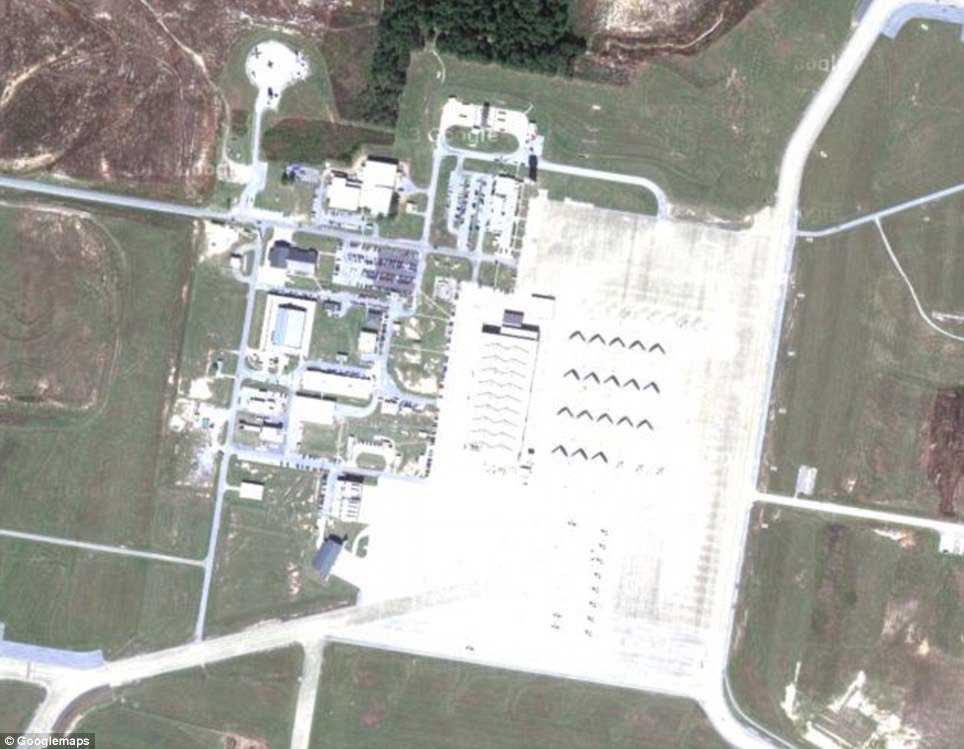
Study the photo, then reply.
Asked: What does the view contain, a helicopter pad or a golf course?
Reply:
helicopter pad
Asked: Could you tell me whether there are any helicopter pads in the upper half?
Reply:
Yes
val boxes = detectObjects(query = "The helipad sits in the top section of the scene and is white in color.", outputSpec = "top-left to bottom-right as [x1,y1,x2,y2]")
[245,40,310,162]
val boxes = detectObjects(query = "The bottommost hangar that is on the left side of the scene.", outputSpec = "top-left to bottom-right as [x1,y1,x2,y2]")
[310,539,345,582]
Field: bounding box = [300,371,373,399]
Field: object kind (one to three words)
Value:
building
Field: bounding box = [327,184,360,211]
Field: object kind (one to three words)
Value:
building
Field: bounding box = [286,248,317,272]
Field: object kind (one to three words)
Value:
house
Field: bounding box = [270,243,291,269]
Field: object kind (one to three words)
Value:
house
